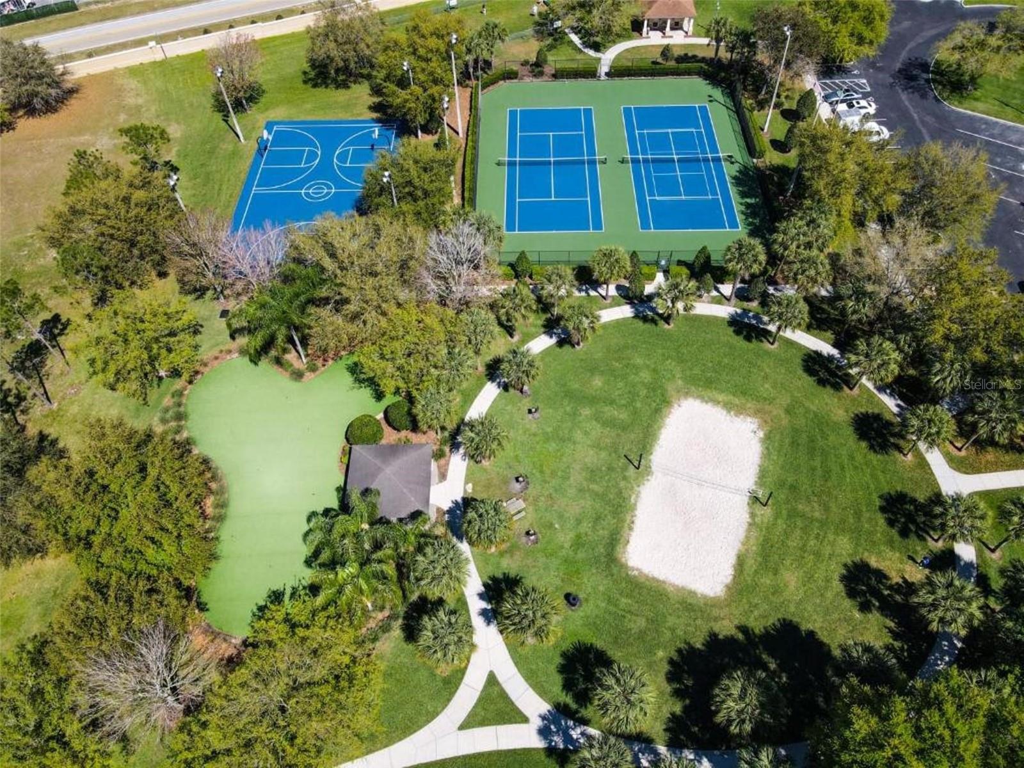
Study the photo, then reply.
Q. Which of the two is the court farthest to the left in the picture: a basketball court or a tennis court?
basketball court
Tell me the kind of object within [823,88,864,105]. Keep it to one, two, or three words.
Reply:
car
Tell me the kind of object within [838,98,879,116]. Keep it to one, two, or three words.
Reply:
car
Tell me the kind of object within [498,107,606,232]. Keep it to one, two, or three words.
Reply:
tennis court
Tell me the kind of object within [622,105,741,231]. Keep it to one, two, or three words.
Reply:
tennis court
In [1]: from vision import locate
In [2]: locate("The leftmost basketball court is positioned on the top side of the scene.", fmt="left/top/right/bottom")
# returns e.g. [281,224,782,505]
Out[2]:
[211,119,399,276]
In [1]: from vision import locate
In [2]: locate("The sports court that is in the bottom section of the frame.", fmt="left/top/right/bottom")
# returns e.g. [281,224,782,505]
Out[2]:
[625,398,764,597]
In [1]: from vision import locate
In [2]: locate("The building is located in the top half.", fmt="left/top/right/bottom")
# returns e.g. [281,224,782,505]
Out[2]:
[637,0,702,39]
